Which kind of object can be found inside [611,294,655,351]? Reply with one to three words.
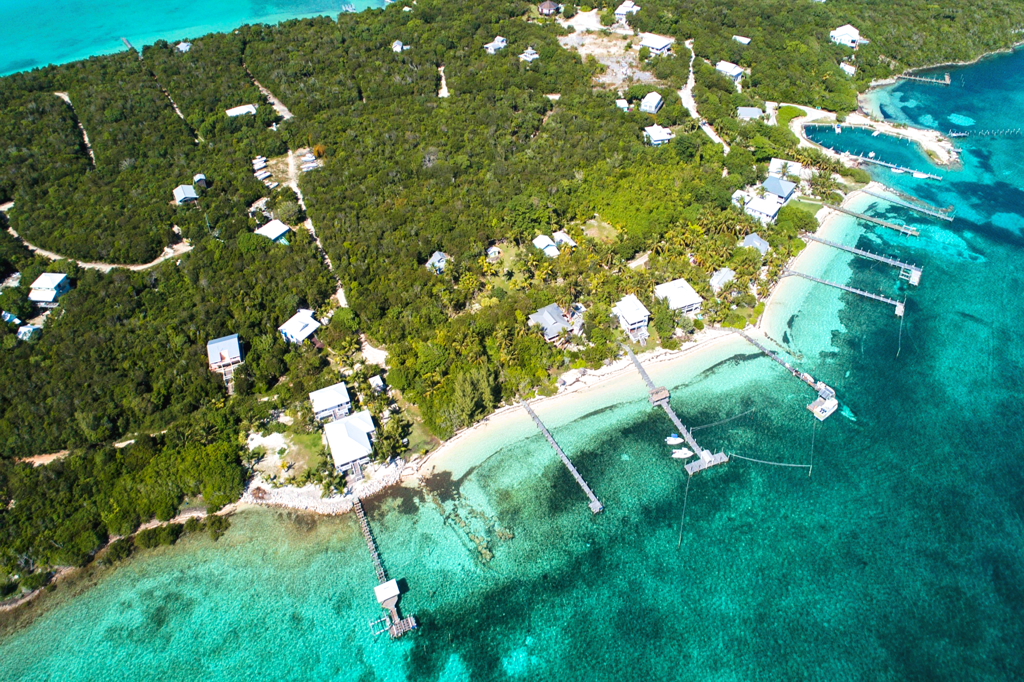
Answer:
house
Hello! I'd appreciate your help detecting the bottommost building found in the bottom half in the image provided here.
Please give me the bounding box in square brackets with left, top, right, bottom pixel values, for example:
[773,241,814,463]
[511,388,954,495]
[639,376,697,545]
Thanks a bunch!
[324,410,378,486]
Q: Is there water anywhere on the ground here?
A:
Yes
